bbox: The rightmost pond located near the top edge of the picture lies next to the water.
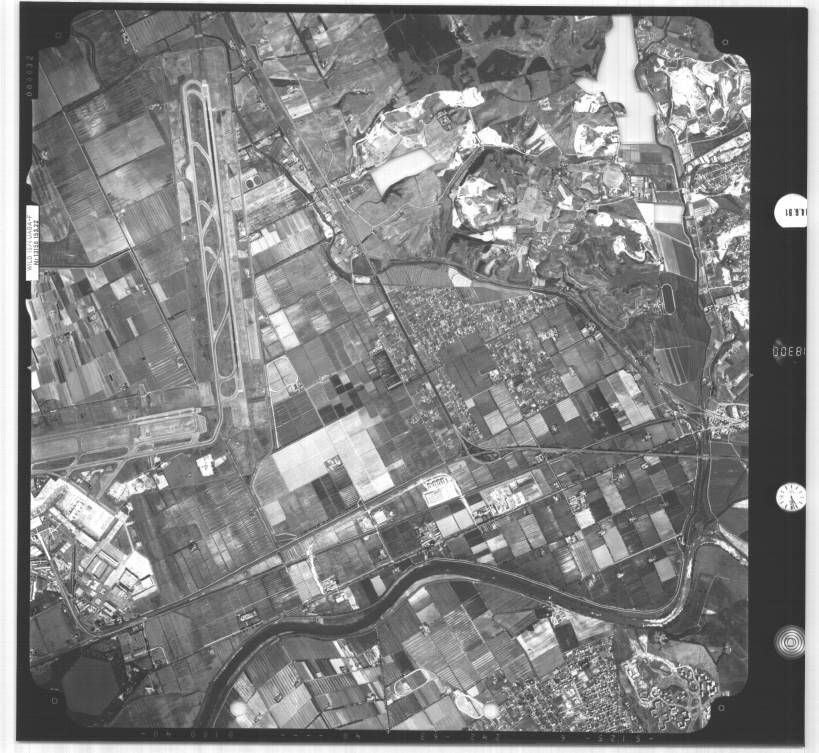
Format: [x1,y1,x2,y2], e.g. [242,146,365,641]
[575,0,657,143]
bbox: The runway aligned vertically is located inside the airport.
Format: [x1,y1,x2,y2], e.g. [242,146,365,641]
[202,83,246,394]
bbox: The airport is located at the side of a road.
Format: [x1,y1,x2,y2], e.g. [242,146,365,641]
[0,79,270,601]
